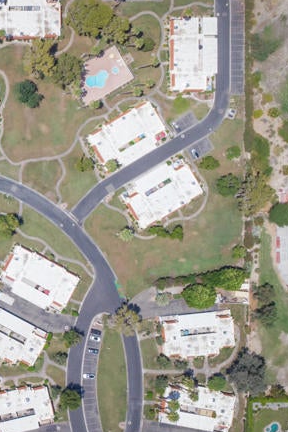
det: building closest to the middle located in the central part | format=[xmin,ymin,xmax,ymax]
[121,163,203,228]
